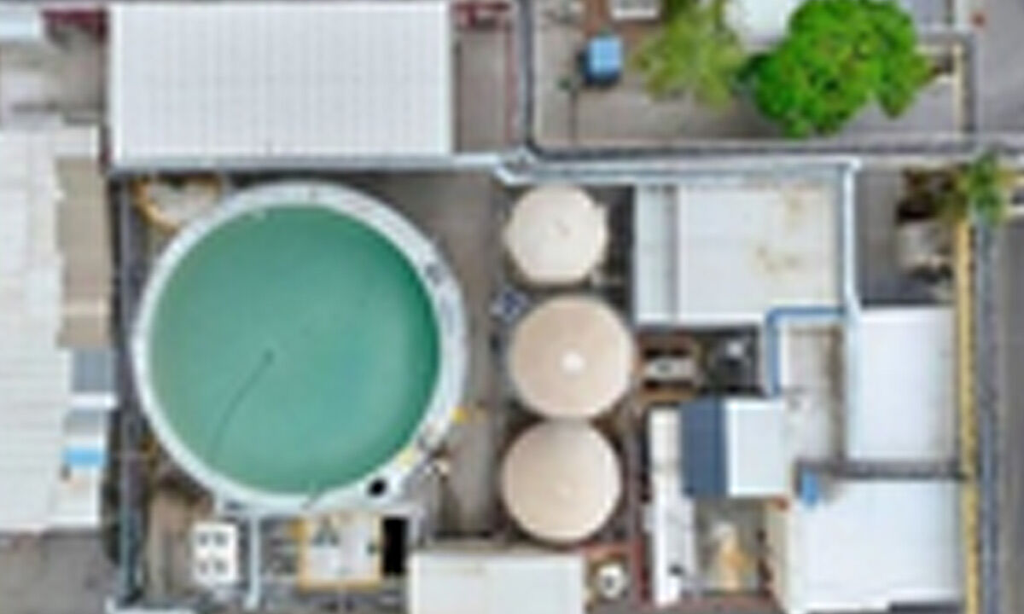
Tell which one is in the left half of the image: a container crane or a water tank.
water tank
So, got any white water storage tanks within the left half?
Yes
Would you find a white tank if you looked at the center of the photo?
Yes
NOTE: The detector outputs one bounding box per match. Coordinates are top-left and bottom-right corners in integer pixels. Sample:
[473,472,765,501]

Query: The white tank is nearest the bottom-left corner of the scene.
[135,182,466,514]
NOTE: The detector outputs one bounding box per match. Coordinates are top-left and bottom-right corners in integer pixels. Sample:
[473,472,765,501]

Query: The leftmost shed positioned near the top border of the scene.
[0,10,58,47]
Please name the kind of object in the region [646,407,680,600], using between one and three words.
building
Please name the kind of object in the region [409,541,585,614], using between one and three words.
shed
